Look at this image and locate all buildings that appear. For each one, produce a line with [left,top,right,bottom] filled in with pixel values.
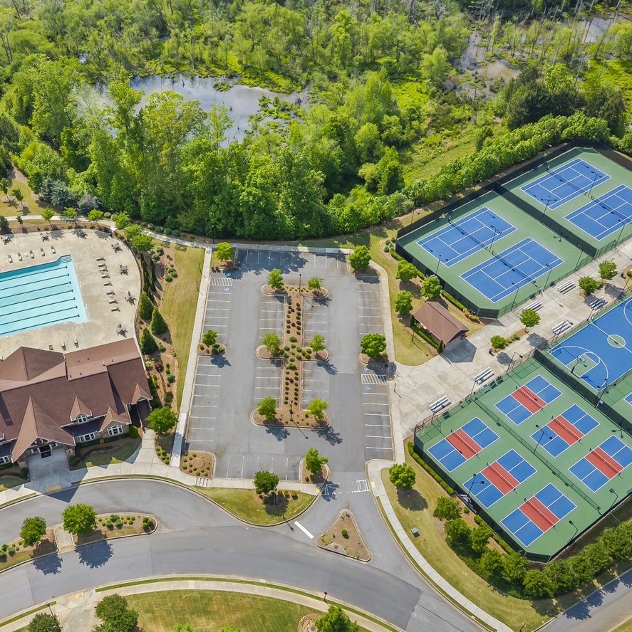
[0,338,154,472]
[414,302,470,352]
